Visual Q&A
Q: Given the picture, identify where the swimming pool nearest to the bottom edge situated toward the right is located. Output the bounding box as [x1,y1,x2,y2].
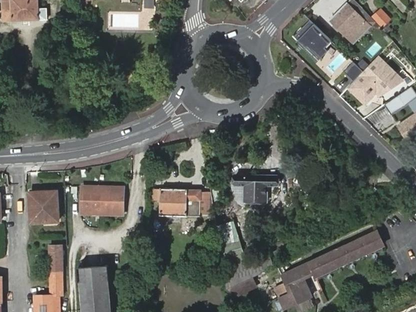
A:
[326,55,345,74]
